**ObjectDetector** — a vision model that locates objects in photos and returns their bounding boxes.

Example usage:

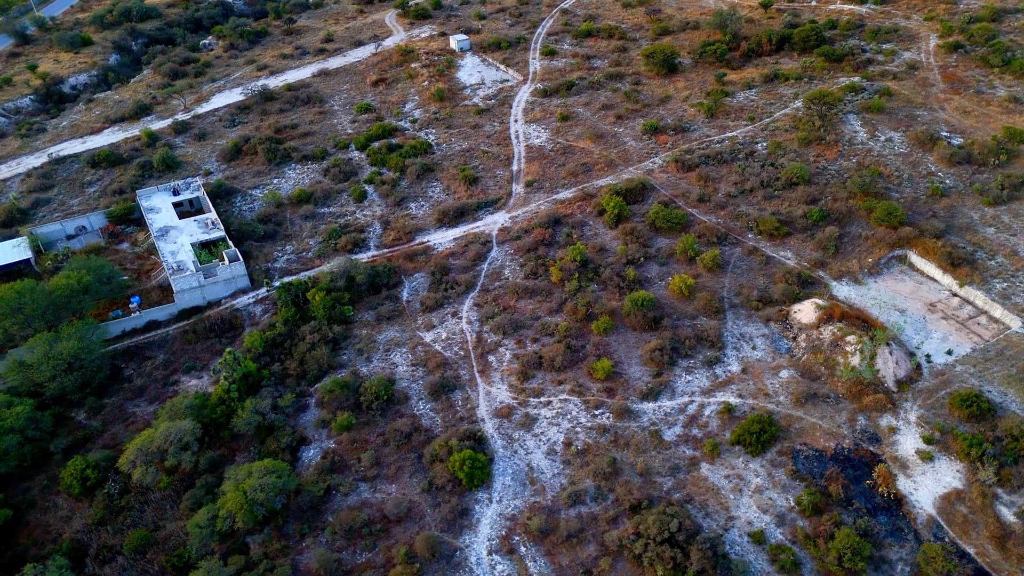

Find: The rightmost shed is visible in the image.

[449,35,470,55]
